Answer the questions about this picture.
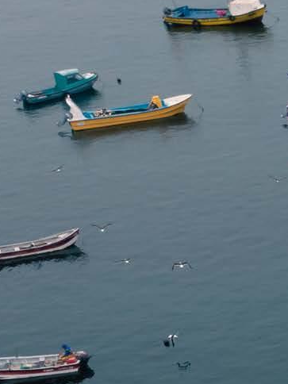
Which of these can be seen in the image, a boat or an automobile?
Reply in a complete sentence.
The image shows a boat.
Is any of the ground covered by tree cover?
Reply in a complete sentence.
No, no tree cover is visible.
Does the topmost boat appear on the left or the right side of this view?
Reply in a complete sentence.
The topmost boat appears in the right half of the scene.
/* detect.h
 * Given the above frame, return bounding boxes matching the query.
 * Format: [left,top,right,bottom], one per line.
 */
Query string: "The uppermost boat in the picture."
[160,0,266,25]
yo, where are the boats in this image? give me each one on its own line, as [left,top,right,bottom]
[160,0,266,25]
[16,68,98,106]
[60,93,192,130]
[0,226,79,262]
[0,346,89,383]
